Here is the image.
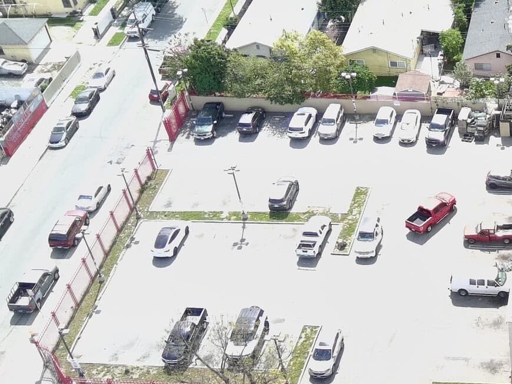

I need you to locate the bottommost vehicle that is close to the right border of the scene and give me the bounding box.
[449,269,511,302]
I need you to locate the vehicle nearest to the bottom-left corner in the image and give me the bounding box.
[0,264,66,316]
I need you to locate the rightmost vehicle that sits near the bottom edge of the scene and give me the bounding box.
[309,329,351,378]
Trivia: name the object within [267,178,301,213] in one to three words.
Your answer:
car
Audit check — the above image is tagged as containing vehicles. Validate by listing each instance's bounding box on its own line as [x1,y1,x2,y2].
[72,179,119,213]
[427,107,454,143]
[398,113,420,142]
[461,220,512,247]
[124,0,154,31]
[194,104,223,139]
[47,117,84,148]
[373,109,395,139]
[0,58,33,78]
[292,215,334,259]
[43,210,98,249]
[228,303,269,359]
[239,108,265,135]
[449,269,511,302]
[0,264,66,316]
[71,83,104,115]
[319,103,343,139]
[161,305,212,363]
[267,178,301,213]
[354,211,384,258]
[405,194,462,234]
[290,110,316,138]
[309,329,351,378]
[88,66,120,92]
[483,168,512,189]
[148,224,194,262]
